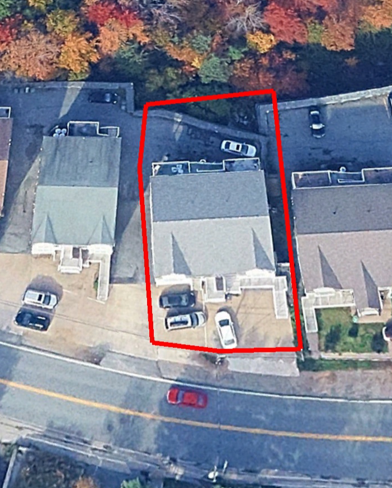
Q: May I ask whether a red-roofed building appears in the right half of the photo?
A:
No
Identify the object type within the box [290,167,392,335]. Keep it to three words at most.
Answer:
house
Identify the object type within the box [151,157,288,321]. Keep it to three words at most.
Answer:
house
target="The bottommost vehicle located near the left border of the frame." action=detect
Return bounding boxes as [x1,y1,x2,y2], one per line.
[14,309,52,331]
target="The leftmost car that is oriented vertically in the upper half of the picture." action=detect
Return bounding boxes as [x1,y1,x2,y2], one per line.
[309,106,325,139]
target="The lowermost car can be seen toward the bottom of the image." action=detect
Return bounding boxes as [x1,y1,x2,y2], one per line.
[166,387,209,408]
